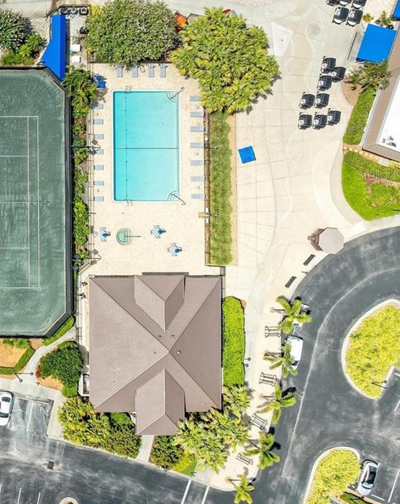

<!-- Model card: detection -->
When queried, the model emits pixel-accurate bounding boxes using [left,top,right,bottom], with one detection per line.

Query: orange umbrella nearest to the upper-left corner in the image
[173,16,187,29]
